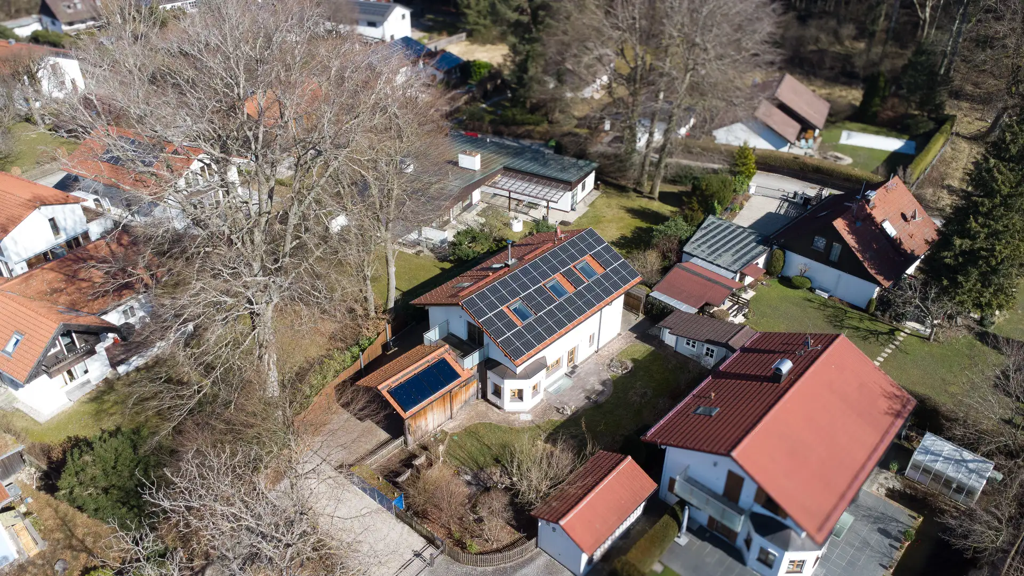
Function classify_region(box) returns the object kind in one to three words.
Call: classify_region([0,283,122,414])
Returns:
house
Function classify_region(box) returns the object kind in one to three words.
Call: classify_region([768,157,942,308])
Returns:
house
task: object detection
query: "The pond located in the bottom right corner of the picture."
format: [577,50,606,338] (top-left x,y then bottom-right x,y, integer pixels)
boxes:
[902,509,1005,576]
